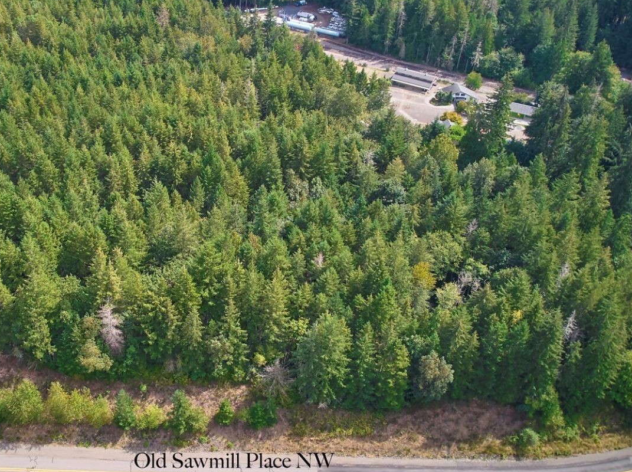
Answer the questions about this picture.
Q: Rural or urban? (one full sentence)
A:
It looks rural.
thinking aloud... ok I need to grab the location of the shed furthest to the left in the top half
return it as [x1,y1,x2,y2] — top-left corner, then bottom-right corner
[387,63,442,99]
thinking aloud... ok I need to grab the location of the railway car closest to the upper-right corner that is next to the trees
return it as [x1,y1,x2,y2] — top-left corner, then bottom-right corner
[315,25,344,41]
